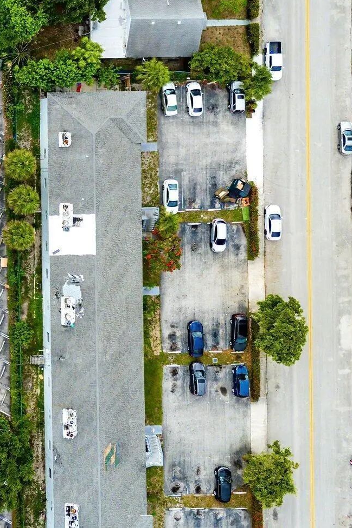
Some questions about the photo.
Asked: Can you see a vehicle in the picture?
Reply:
Yes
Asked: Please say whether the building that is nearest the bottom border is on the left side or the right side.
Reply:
left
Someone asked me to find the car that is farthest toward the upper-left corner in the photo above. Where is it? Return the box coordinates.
[160,81,178,117]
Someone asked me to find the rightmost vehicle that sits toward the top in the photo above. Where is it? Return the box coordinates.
[335,121,352,156]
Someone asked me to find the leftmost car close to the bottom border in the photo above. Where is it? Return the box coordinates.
[212,465,232,502]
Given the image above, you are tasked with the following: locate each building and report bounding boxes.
[37,90,163,528]
[84,0,212,59]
